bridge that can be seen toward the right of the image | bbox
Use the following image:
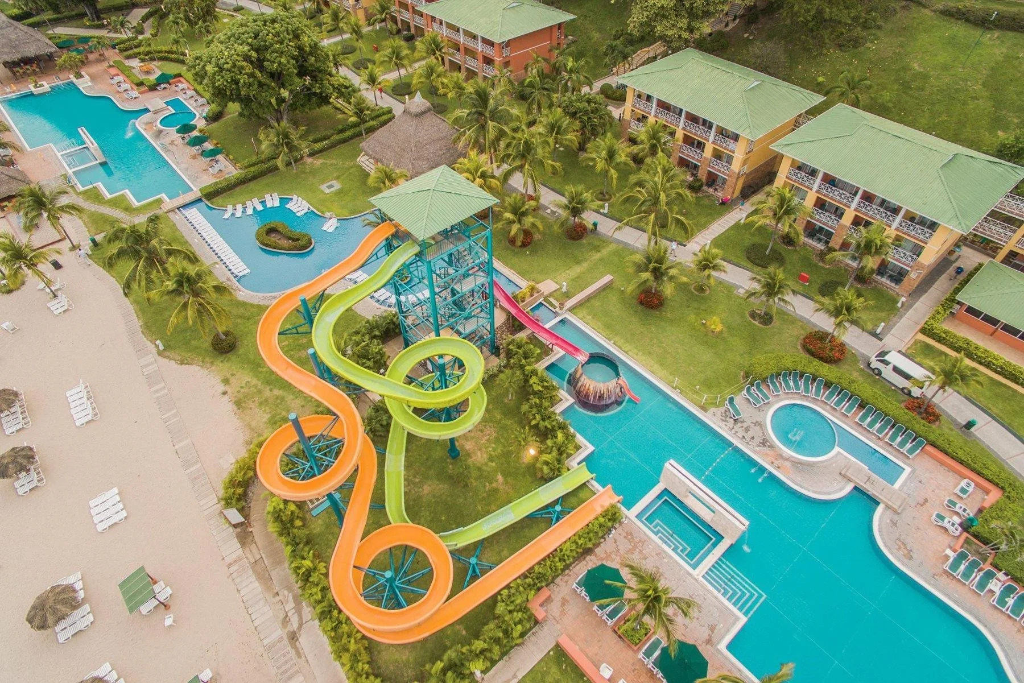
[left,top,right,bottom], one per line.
[842,465,908,511]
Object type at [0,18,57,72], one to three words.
building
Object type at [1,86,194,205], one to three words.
swimming pool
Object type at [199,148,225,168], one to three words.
umbrella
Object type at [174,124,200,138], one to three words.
umbrella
